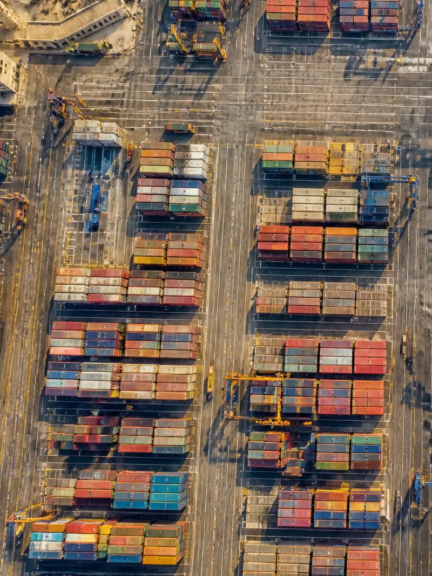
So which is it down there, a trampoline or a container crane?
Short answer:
container crane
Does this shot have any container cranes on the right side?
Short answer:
Yes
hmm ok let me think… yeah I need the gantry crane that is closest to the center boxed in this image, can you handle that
[226,372,288,423]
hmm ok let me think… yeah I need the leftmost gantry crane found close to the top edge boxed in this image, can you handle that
[168,17,229,58]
